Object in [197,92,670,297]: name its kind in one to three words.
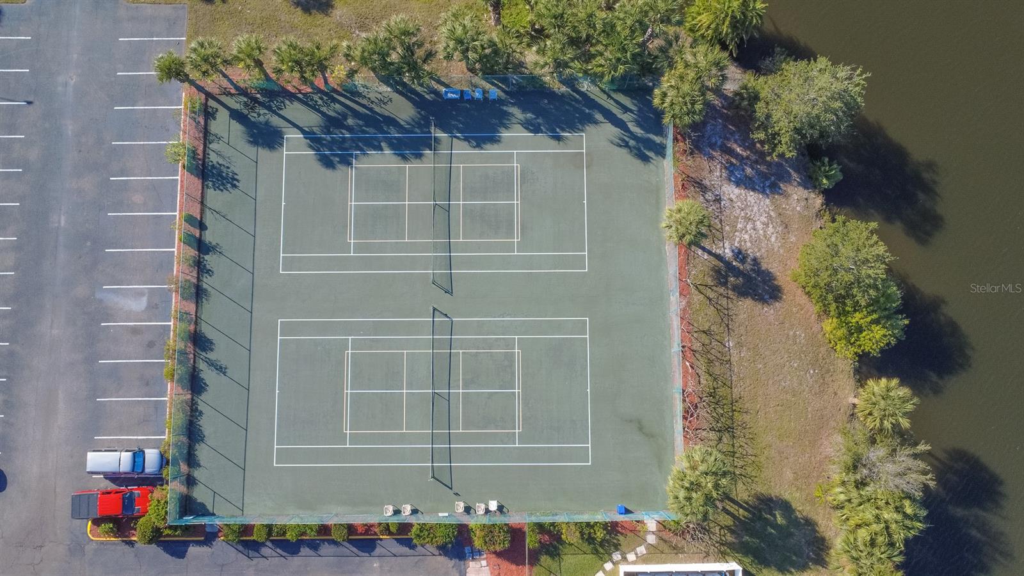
tennis court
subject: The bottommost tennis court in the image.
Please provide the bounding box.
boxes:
[188,294,677,515]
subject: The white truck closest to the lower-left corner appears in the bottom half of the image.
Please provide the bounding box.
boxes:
[89,445,168,475]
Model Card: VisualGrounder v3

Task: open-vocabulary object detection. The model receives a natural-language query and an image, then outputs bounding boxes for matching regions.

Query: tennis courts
[188,294,677,515]
[197,92,670,297]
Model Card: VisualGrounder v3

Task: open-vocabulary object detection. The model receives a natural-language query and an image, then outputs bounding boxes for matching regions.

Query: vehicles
[74,489,162,523]
[89,445,168,475]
